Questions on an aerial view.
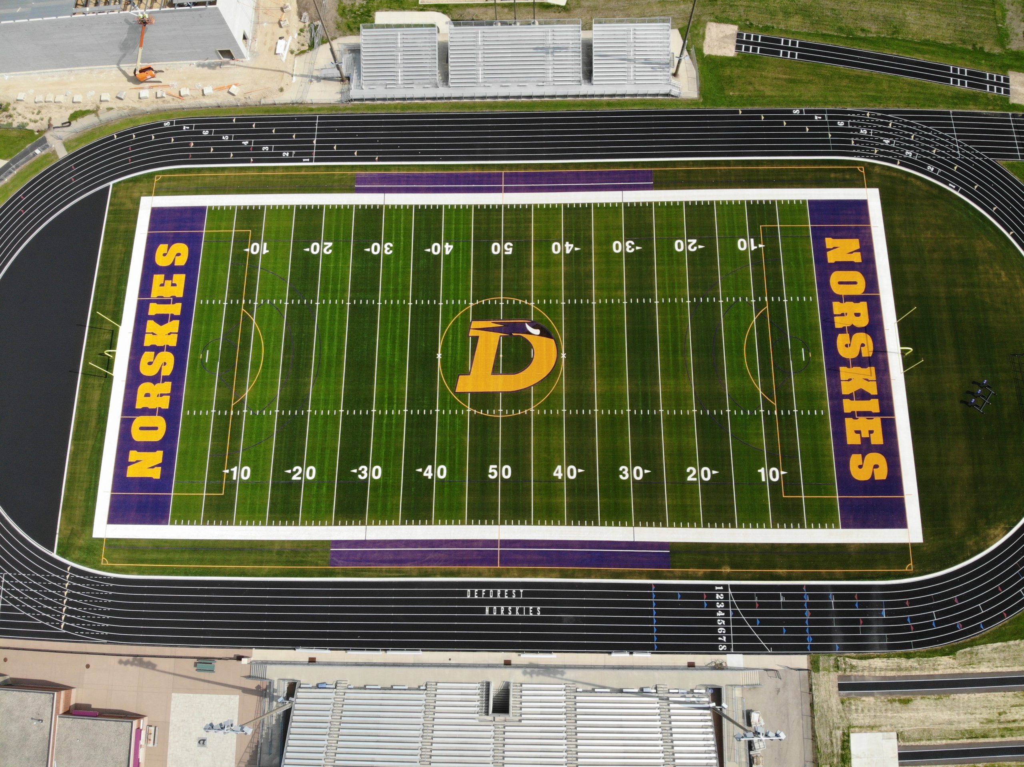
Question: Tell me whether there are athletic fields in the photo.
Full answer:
Yes, an athletic field appears in the view.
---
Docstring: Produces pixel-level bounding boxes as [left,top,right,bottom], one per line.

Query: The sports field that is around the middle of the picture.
[169,200,839,528]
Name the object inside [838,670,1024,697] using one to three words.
runway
